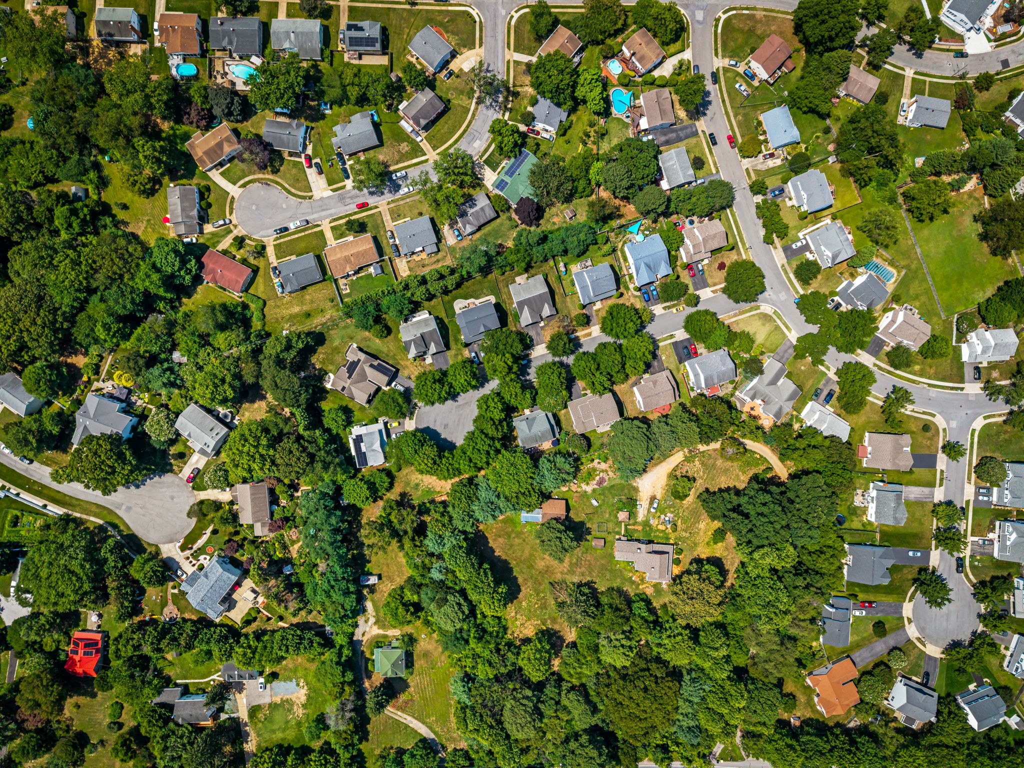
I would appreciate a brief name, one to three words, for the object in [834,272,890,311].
house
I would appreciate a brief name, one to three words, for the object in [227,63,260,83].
swimming pool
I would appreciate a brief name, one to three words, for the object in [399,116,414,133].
camper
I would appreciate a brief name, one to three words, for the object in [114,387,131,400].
gazebo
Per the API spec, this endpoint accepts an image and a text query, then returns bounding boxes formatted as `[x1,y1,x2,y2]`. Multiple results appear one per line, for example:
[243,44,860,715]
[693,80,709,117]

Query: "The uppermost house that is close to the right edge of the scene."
[937,0,1003,38]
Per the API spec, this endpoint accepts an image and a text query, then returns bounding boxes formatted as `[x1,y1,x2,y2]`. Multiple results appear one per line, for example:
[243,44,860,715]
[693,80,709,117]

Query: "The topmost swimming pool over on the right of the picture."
[608,57,623,74]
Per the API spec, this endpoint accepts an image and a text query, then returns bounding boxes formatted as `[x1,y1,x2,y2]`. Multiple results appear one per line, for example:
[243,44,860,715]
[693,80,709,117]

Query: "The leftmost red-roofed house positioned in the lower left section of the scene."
[65,630,107,680]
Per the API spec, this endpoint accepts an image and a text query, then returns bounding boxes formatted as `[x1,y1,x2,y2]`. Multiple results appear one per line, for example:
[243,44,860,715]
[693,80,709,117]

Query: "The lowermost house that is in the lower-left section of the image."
[161,685,213,724]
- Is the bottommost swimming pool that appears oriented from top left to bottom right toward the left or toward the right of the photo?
right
